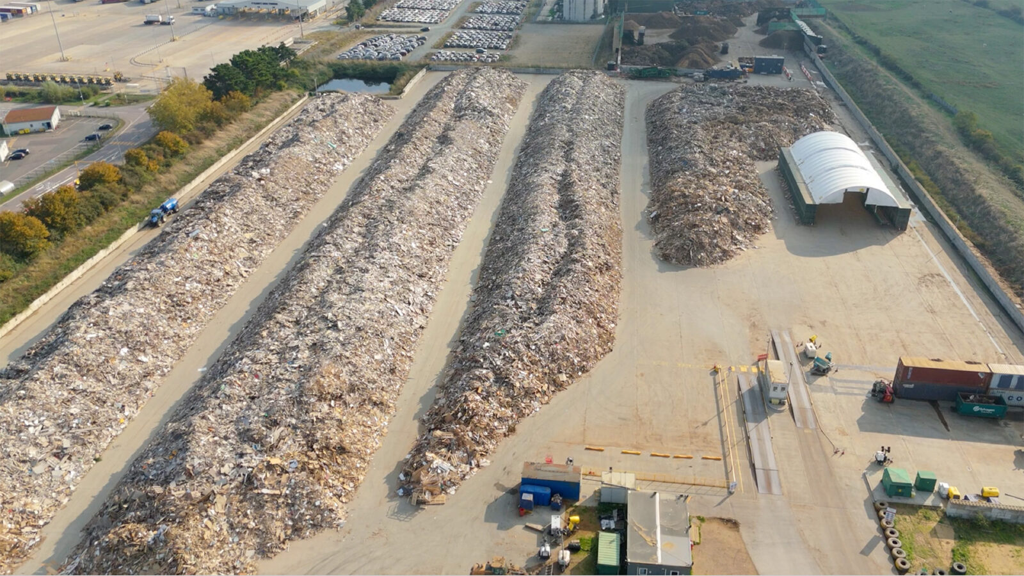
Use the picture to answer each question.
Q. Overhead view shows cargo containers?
Yes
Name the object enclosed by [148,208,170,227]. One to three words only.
work vehicle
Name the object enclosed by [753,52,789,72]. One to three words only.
building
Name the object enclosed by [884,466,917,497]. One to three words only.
shed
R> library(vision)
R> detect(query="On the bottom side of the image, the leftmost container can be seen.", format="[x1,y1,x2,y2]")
[521,462,581,499]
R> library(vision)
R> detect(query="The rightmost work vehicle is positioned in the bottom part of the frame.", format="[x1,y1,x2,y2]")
[872,375,898,404]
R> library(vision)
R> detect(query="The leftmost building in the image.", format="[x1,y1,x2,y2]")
[0,103,56,135]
